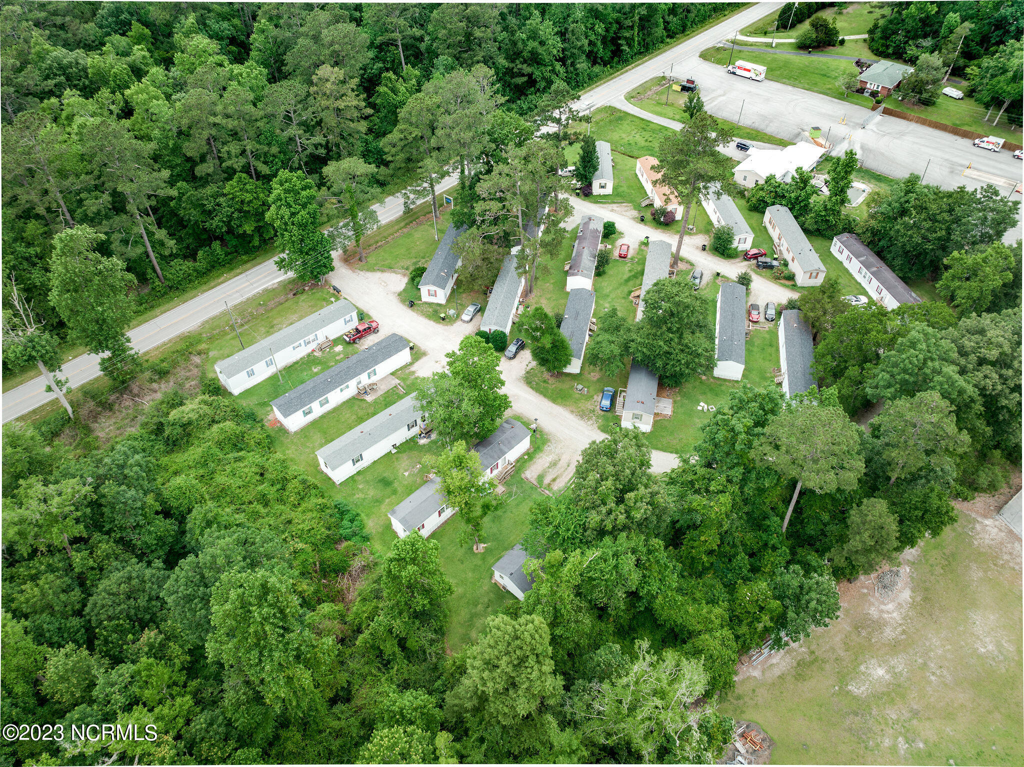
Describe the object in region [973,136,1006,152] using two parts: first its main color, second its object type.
white vehicle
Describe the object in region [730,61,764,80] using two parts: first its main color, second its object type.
white vehicle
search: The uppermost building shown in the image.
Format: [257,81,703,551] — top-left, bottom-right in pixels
[857,61,912,96]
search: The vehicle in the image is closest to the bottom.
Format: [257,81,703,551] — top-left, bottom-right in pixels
[601,386,616,409]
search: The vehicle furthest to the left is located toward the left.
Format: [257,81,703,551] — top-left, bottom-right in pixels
[344,323,380,344]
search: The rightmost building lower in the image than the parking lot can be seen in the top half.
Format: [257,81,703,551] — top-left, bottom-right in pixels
[830,233,920,319]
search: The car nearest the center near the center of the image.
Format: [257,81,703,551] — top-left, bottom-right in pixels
[505,339,524,358]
